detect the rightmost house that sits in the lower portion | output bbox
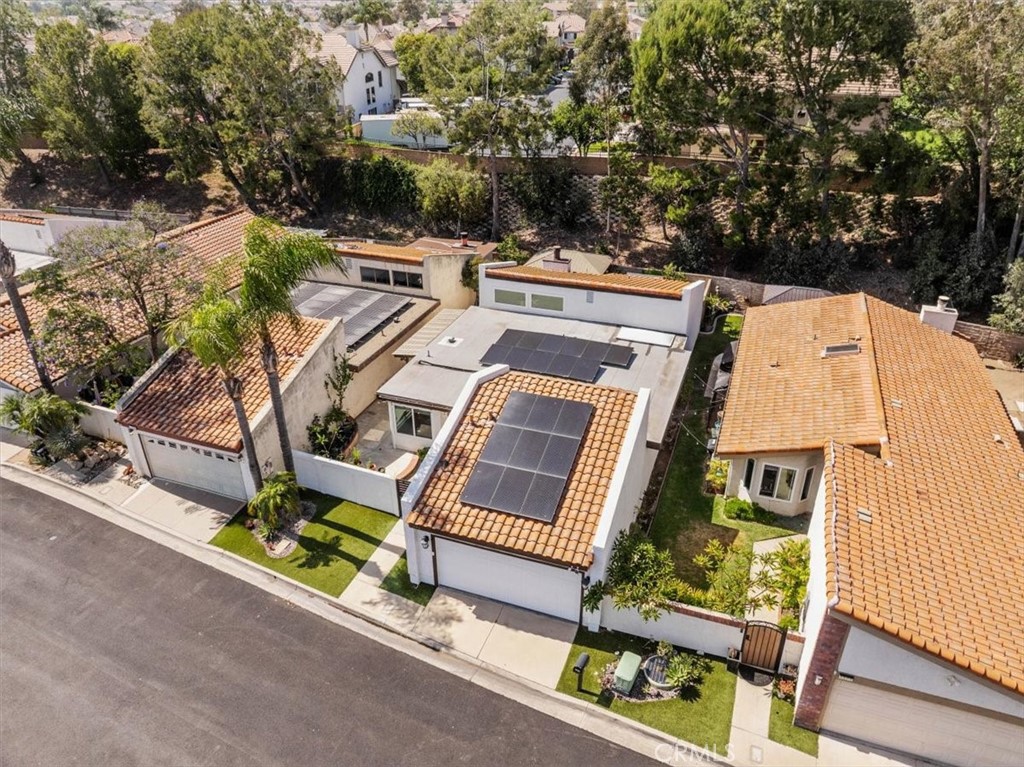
[713,283,1024,767]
